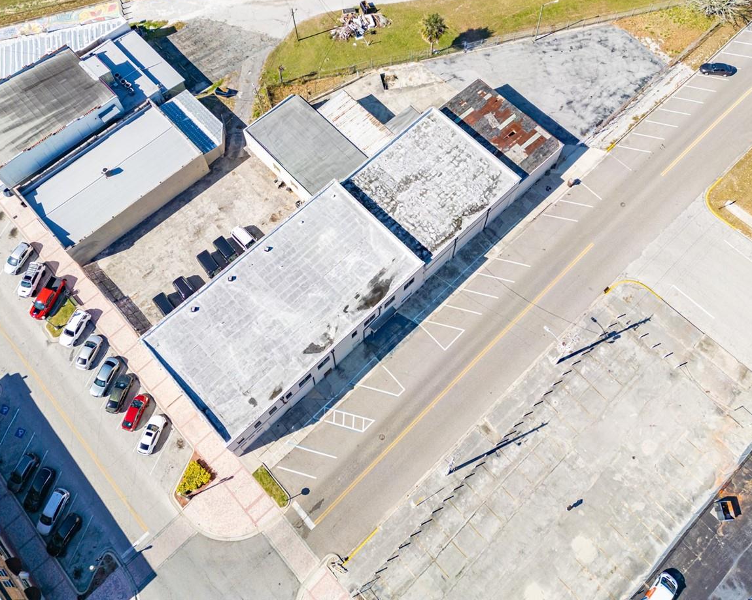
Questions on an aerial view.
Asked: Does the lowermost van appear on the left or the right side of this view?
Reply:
right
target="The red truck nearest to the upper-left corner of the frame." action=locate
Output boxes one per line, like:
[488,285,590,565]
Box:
[26,274,73,323]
